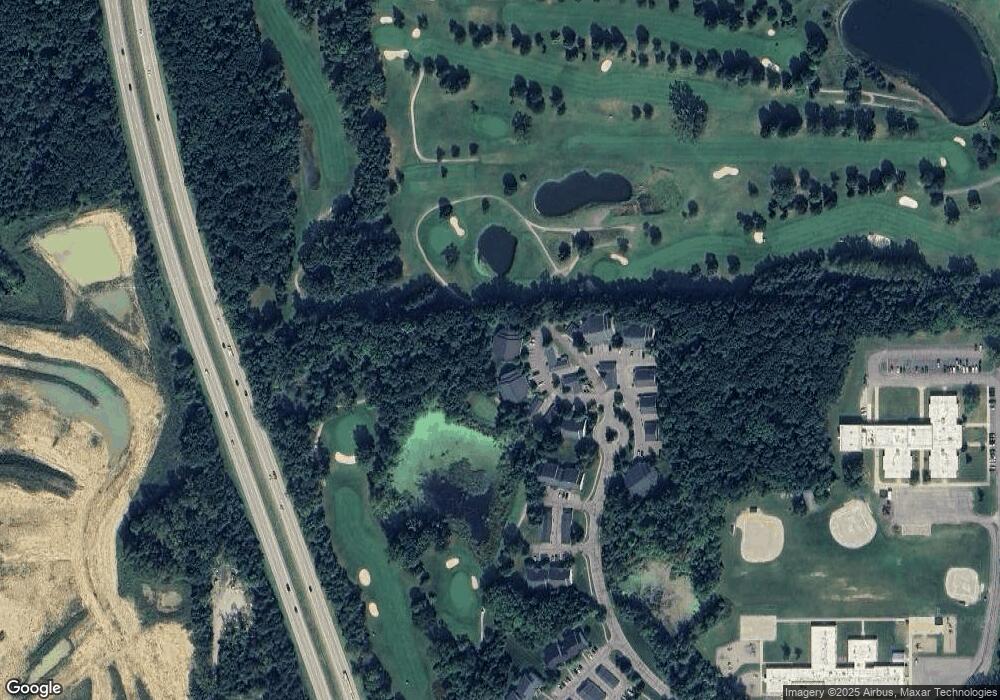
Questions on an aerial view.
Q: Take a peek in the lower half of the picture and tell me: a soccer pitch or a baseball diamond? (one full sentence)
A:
The feature located in the lower half of the picture is a baseball diamond.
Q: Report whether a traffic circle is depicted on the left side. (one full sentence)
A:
No, the scene shows no traffic circle on the left side.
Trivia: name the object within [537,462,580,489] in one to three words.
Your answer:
house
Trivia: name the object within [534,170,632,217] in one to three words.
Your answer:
pond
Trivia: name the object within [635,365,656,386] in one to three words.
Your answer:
building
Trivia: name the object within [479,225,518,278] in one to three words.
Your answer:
pond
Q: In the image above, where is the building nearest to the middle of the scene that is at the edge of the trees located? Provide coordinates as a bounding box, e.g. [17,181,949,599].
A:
[494,331,520,363]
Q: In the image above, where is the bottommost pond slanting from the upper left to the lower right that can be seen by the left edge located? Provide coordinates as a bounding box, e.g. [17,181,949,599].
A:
[15,361,131,459]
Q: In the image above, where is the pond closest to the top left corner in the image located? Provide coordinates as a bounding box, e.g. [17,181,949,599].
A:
[43,226,120,284]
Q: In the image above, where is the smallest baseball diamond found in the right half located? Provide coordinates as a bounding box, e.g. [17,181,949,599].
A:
[946,567,979,605]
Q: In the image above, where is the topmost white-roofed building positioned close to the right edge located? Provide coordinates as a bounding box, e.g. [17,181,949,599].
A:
[839,394,962,478]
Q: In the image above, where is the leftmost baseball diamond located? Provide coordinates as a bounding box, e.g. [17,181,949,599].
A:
[736,512,784,563]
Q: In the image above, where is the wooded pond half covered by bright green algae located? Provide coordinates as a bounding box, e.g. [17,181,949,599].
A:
[414,458,501,542]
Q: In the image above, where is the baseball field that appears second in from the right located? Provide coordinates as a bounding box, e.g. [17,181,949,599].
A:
[830,499,877,550]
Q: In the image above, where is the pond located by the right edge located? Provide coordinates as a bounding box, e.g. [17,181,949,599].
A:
[840,0,995,124]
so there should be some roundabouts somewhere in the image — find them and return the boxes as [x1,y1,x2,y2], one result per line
[594,417,629,451]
